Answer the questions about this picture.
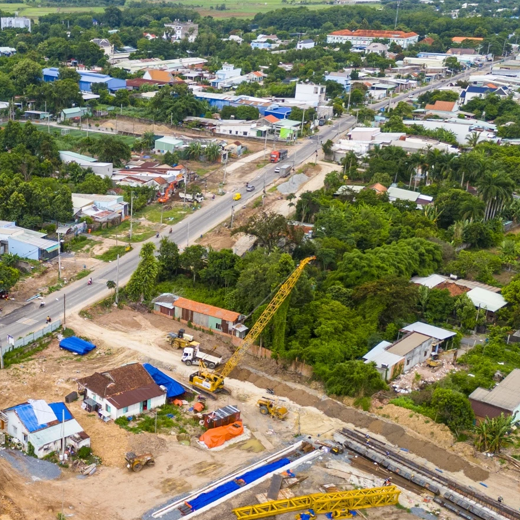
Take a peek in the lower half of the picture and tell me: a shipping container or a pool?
shipping container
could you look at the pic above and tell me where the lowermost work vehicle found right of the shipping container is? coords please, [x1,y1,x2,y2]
[258,395,293,422]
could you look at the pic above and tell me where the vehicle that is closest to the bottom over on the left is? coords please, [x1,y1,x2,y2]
[127,452,155,471]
